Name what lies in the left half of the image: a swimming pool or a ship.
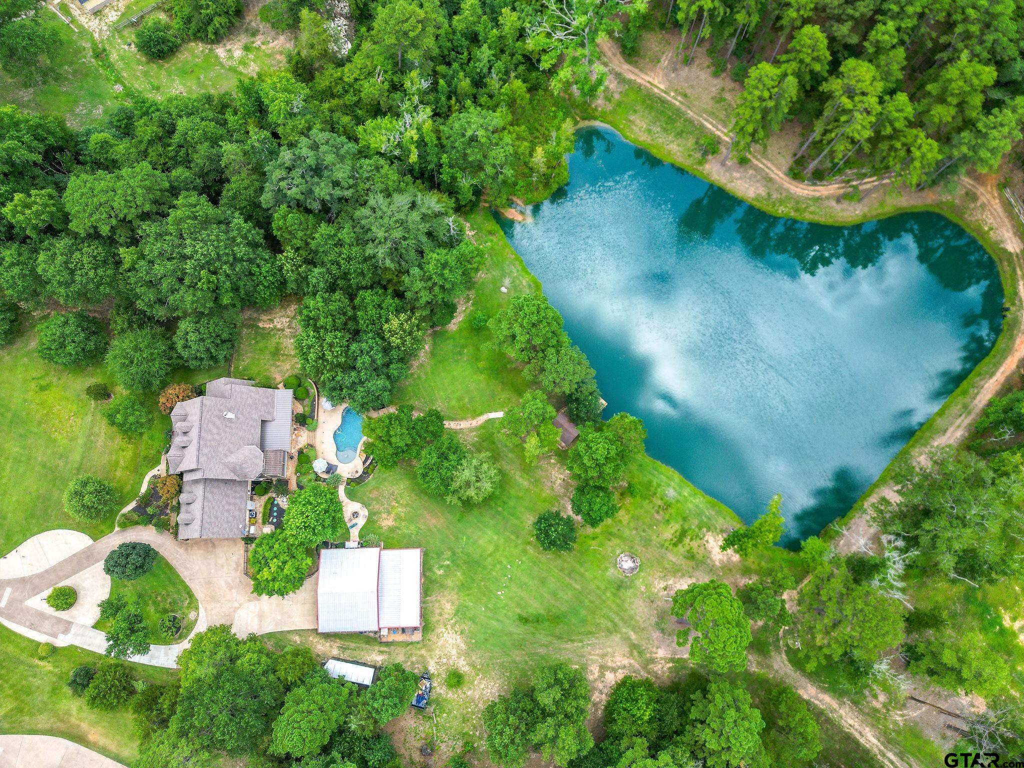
swimming pool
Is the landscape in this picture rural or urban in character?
rural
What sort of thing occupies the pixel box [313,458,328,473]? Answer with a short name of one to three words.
umbrella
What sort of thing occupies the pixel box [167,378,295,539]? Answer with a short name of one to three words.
house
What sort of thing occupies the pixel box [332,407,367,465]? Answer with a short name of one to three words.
swimming pool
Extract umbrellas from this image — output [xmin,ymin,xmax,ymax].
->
[313,458,328,473]
[320,397,335,410]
